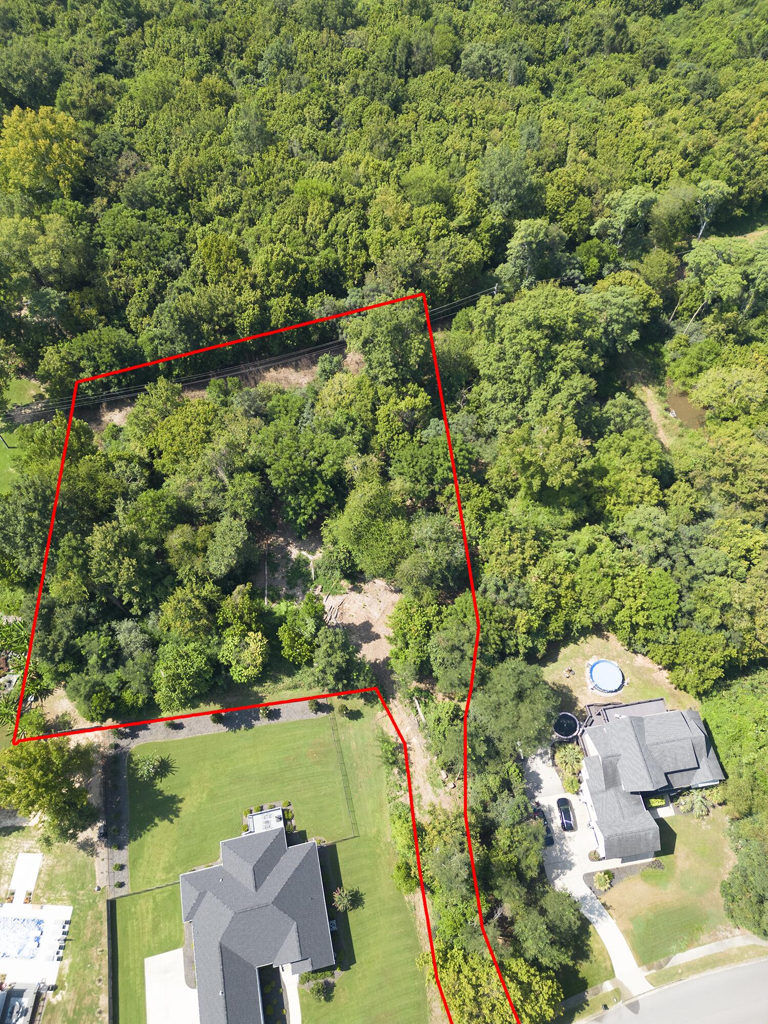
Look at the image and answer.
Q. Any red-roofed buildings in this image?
No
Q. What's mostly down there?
trees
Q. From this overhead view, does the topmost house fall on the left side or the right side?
right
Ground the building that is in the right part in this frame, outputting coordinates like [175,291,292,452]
[580,708,729,861]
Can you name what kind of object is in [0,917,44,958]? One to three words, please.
swimming pool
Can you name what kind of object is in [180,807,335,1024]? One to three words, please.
house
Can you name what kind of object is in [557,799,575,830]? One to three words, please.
car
